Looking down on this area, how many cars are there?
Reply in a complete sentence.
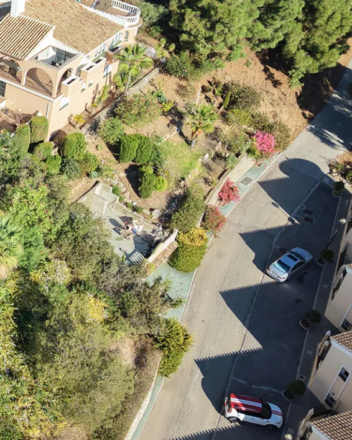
Looking from above, you can make out 2 cars.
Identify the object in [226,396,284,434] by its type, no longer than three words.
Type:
car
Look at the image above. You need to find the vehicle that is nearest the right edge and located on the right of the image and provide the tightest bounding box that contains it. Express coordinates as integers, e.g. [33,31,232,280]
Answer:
[268,250,317,284]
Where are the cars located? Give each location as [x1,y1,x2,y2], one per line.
[268,250,317,284]
[226,396,284,434]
